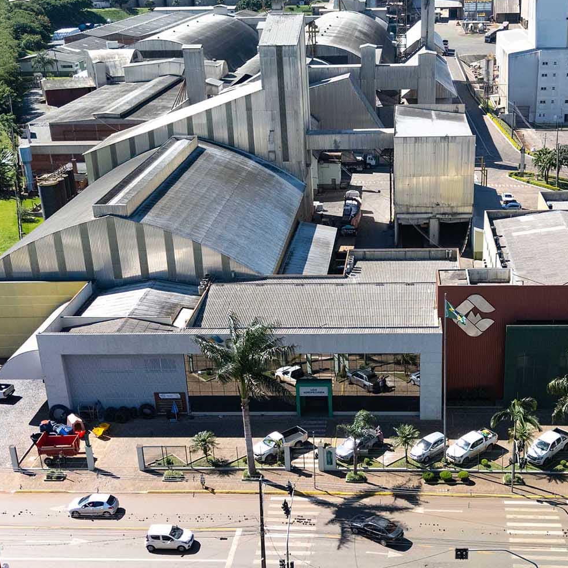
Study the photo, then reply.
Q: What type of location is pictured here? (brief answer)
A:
industrial area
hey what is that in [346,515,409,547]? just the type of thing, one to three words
car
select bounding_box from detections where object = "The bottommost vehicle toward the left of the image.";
[140,523,197,553]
